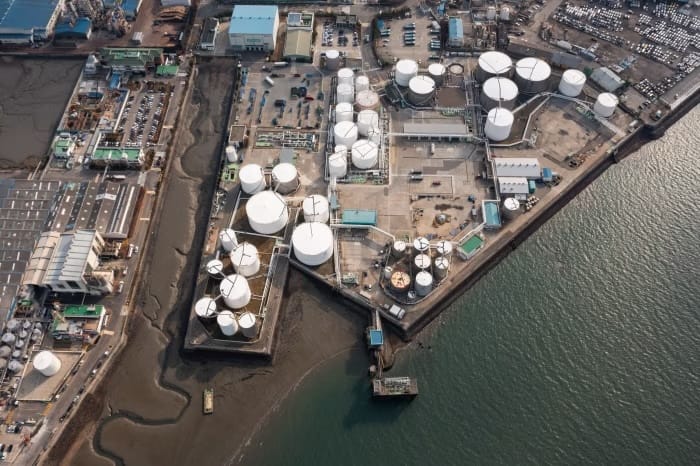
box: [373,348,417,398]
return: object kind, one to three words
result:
pier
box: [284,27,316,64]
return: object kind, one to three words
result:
building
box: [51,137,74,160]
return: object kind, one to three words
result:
building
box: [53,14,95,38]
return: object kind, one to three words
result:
shed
